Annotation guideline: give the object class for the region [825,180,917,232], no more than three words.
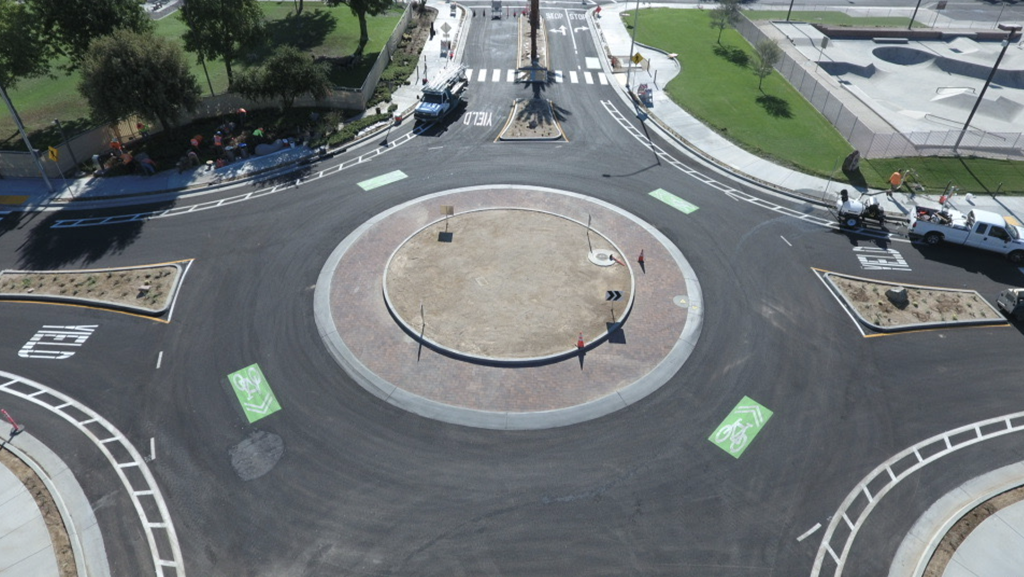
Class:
trailer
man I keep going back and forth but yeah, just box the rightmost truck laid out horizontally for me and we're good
[911,205,1024,264]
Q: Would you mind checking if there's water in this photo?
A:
No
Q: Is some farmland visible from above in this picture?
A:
No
